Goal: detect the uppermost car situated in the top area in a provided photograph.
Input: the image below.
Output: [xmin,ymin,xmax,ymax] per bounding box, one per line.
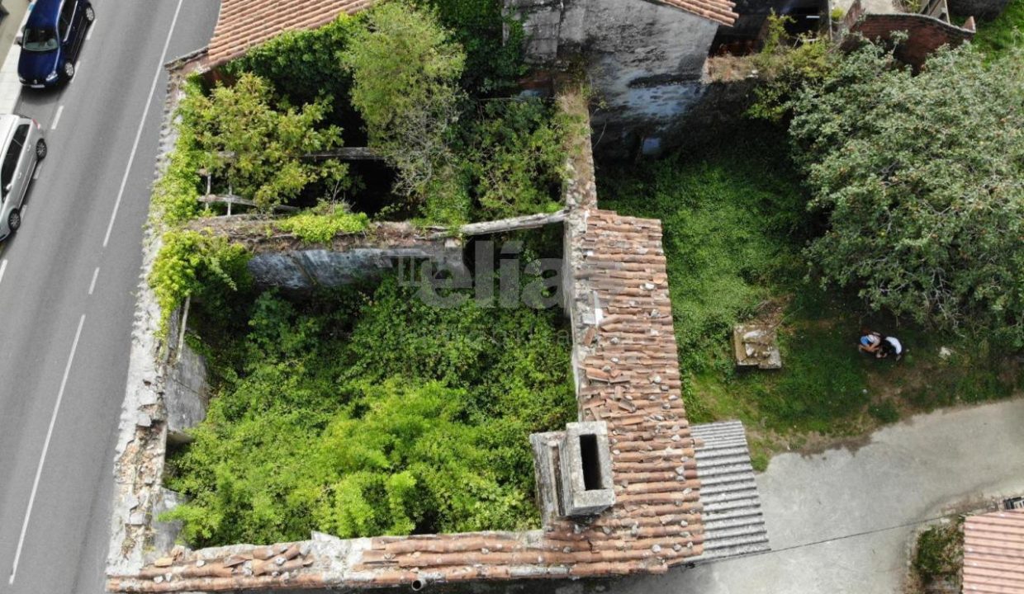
[9,0,93,89]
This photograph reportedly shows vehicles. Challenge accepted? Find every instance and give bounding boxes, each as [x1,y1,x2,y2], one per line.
[0,109,48,243]
[9,0,93,89]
